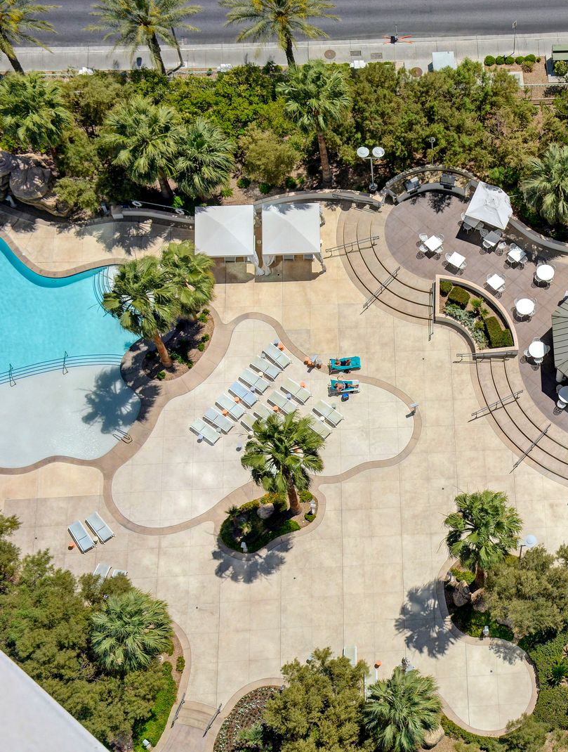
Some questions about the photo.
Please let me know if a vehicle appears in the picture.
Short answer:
No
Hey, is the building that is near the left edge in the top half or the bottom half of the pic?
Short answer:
bottom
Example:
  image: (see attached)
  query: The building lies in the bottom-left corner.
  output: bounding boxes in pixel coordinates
[0,644,116,752]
